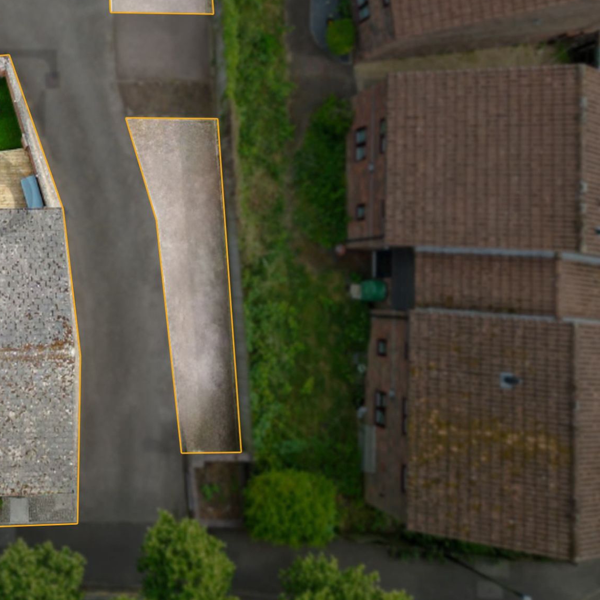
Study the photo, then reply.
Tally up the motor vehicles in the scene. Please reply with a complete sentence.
I count no motor vehicles.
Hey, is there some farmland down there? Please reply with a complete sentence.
No, there's no farmland in this view.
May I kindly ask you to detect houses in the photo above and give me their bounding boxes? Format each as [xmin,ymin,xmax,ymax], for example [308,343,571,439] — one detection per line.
[346,63,600,257]
[369,306,600,563]
[350,0,600,69]
[0,207,80,498]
